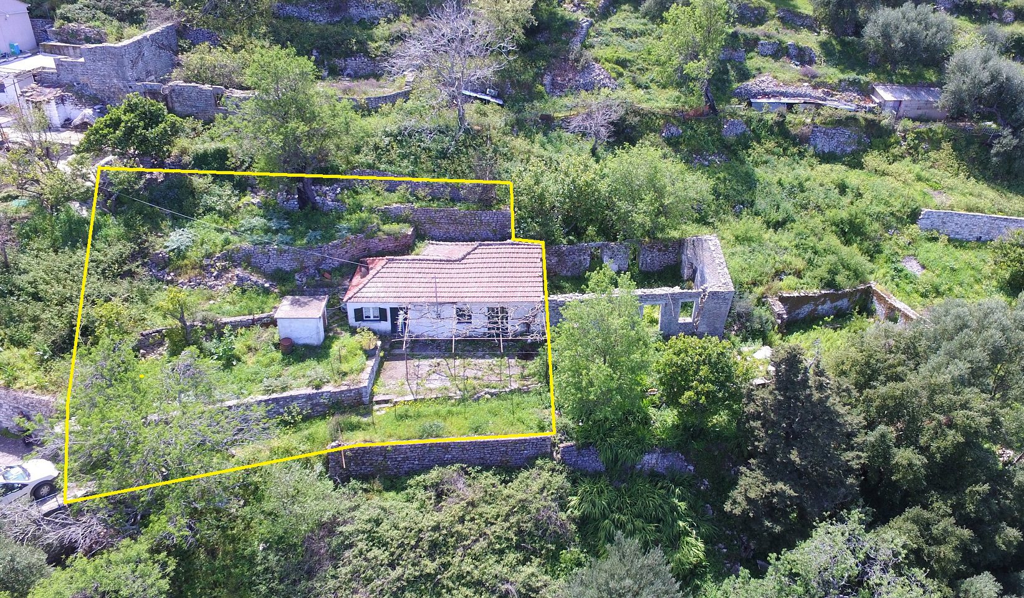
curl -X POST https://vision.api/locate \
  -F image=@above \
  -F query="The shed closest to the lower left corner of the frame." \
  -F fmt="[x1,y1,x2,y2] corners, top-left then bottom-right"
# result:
[271,290,334,344]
